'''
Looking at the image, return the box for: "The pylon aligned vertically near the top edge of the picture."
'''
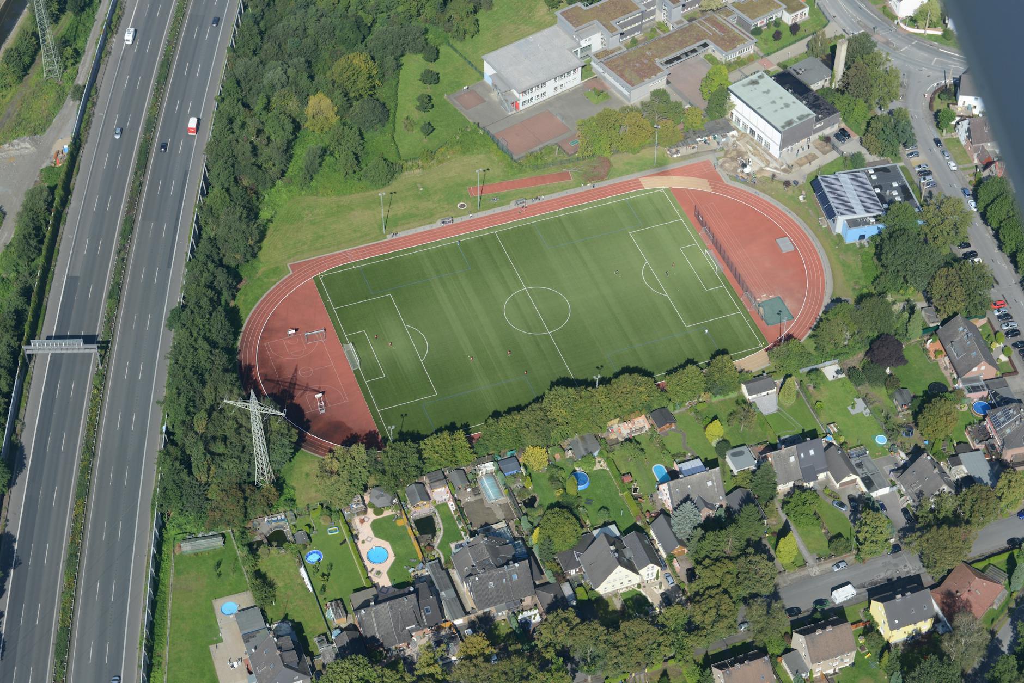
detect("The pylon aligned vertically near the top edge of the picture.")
[30,0,64,87]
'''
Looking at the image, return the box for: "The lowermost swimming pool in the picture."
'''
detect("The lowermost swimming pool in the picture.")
[217,598,241,618]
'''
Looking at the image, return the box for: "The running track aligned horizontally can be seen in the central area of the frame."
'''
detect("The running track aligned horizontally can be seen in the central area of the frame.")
[239,160,823,464]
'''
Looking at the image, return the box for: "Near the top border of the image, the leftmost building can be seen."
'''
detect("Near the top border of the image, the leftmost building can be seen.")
[481,24,600,110]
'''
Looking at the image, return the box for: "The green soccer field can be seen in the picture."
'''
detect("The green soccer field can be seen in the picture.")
[312,187,769,447]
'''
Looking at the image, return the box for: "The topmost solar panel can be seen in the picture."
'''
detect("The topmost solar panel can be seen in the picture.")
[810,177,837,220]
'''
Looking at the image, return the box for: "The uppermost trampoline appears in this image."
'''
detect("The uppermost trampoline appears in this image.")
[927,379,949,396]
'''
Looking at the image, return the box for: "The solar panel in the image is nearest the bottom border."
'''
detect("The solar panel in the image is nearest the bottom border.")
[678,459,705,476]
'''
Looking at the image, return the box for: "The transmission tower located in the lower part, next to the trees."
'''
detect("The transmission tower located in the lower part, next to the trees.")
[221,392,288,494]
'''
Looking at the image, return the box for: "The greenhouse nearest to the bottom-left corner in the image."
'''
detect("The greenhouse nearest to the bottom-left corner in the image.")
[181,534,224,554]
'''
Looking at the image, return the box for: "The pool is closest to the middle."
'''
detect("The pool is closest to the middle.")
[569,469,593,490]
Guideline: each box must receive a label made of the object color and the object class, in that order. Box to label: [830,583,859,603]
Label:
white vehicle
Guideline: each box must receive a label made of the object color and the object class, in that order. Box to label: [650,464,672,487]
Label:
blue swimming pool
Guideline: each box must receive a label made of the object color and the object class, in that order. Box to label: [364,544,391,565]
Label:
blue swimming pool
